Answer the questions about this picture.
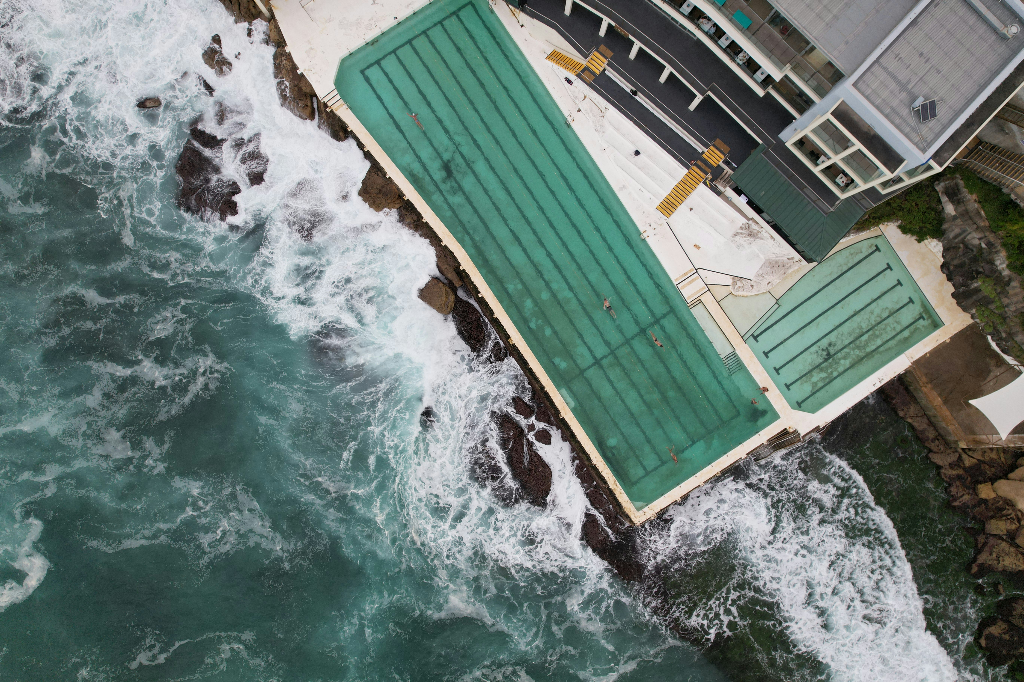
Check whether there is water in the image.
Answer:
Yes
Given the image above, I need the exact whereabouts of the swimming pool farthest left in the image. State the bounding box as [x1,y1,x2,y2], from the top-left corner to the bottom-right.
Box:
[340,0,772,509]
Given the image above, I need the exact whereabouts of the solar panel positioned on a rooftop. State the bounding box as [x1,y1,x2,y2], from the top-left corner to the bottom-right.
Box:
[912,98,945,122]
